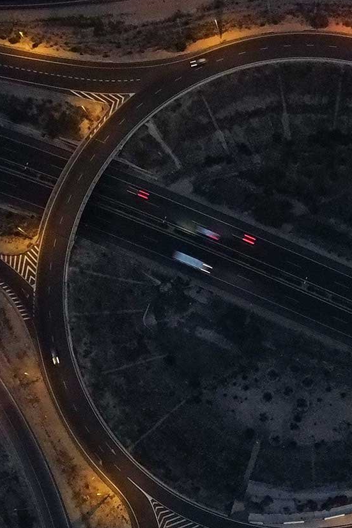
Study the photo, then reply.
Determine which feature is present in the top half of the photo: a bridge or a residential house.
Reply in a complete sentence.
What appears in the top half of the photo is a bridge.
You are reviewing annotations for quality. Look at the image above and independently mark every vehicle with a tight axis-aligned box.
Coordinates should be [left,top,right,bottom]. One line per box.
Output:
[174,250,211,272]
[131,188,145,196]
[192,60,205,66]
[237,232,251,242]
[199,226,221,239]
[50,348,57,363]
